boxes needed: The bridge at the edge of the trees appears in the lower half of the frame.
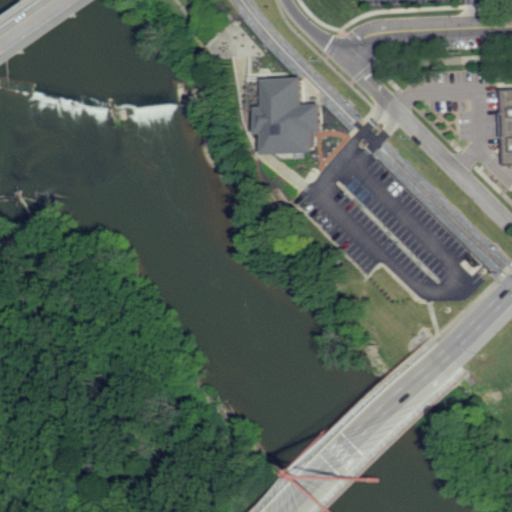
[249,292,512,512]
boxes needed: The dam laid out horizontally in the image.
[0,78,189,134]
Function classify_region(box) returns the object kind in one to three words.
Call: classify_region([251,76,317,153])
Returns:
building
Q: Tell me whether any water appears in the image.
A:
Yes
